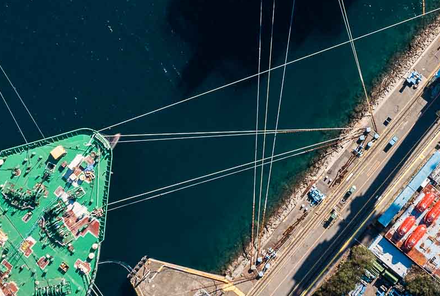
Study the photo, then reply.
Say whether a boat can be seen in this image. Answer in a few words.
Yes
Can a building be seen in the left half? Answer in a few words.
No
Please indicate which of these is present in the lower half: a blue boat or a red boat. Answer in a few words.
red boat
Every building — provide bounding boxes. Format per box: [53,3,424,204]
[376,151,440,228]
[367,231,413,278]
